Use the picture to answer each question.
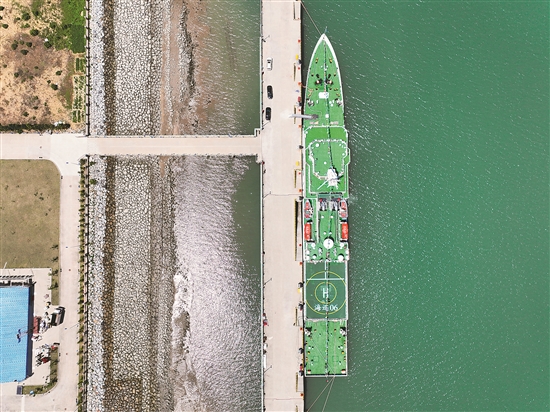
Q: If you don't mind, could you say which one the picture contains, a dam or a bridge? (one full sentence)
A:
This aerial view contains a bridge.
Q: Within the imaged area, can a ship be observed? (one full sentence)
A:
Yes, looking at the shot, I can spot a ship.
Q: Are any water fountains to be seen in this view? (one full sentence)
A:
No, there's no water fountain here.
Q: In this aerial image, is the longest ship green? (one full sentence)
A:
Yes, the longest ship is green.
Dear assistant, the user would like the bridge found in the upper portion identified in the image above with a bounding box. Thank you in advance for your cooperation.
[86,128,262,163]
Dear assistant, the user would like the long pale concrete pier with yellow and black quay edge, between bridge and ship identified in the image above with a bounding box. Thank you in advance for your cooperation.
[262,0,303,412]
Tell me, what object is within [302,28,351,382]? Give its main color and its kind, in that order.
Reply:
green ship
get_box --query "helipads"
[303,262,348,321]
